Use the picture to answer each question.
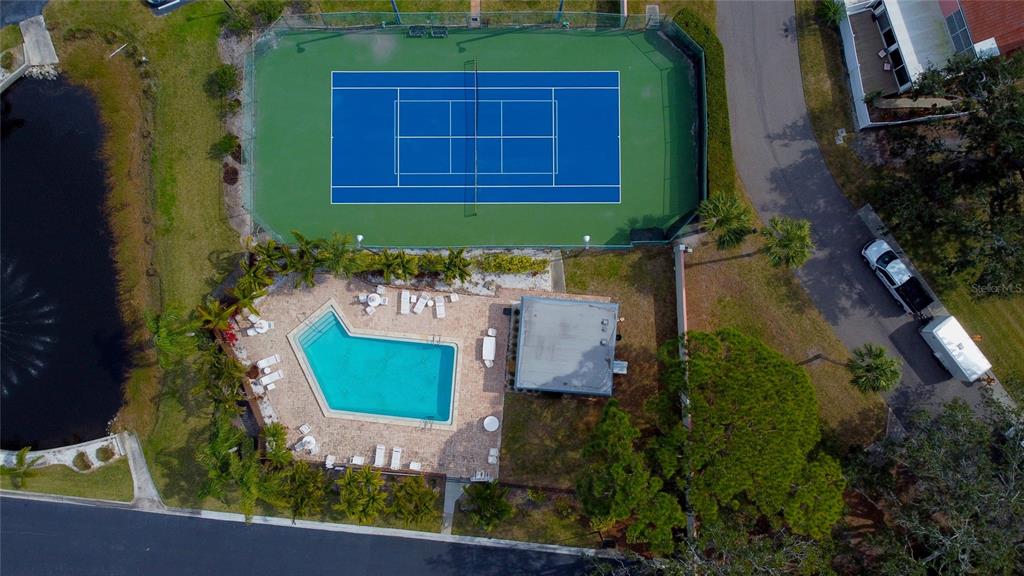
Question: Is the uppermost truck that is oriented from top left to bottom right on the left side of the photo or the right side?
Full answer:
The uppermost truck that is oriented from top left to bottom right is on the right side of the image.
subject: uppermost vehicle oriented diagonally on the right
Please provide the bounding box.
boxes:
[863,241,934,314]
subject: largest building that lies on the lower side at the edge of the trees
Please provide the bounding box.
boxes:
[505,296,629,399]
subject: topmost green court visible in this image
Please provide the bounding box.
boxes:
[256,30,697,247]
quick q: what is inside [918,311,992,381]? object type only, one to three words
trailer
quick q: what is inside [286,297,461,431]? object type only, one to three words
swimming pool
